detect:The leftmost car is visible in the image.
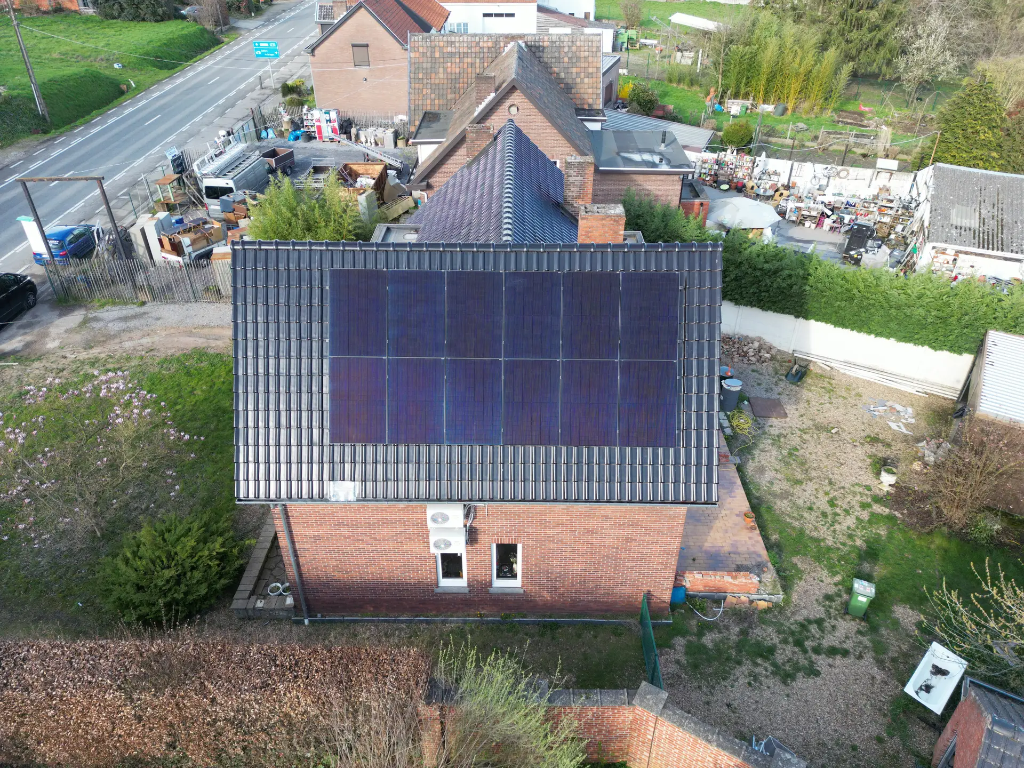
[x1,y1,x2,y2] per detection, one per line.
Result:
[0,278,43,326]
